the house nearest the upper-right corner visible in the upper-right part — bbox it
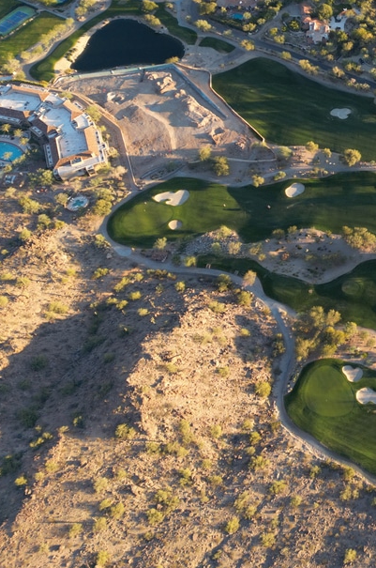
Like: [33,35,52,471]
[300,5,330,48]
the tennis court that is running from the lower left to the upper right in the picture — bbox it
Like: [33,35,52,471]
[0,4,38,36]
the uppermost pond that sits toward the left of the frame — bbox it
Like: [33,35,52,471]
[70,20,184,72]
